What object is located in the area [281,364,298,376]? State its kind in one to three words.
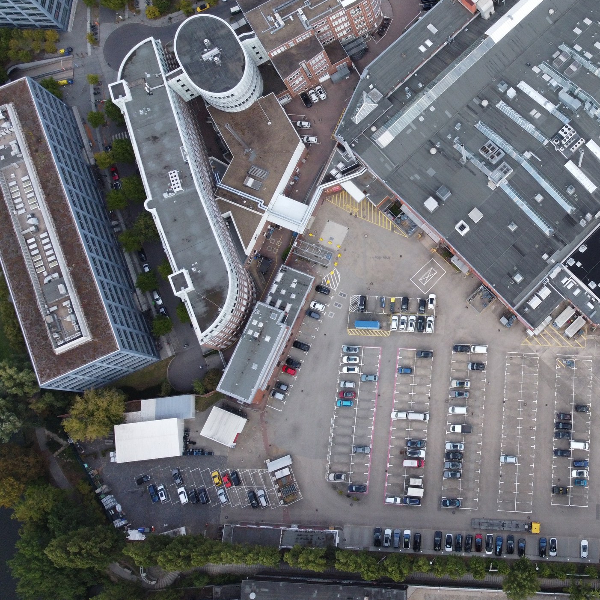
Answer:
vehicle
